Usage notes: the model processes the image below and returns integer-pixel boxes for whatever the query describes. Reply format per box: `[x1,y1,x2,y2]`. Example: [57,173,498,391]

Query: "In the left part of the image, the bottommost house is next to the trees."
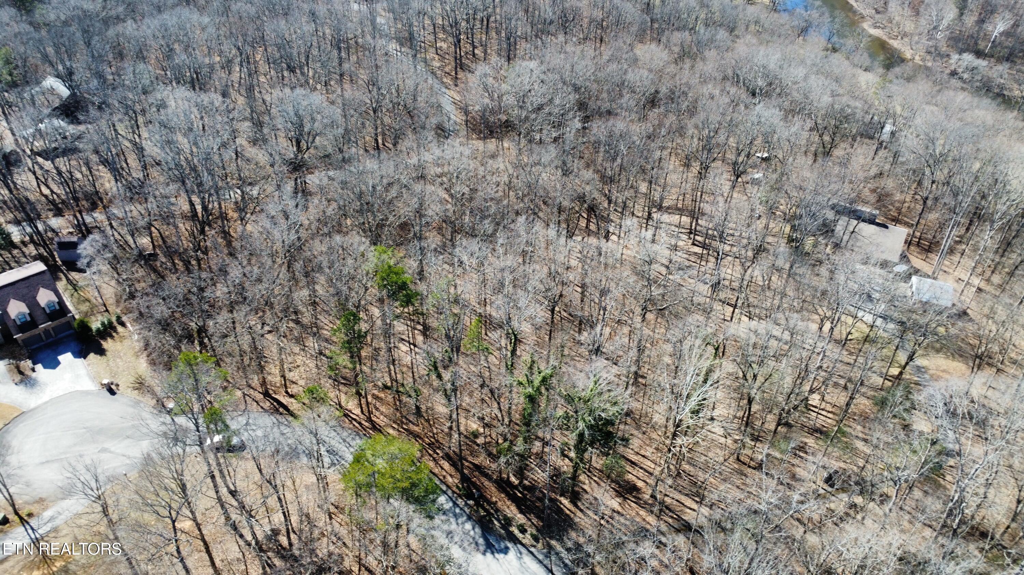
[0,258,74,354]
